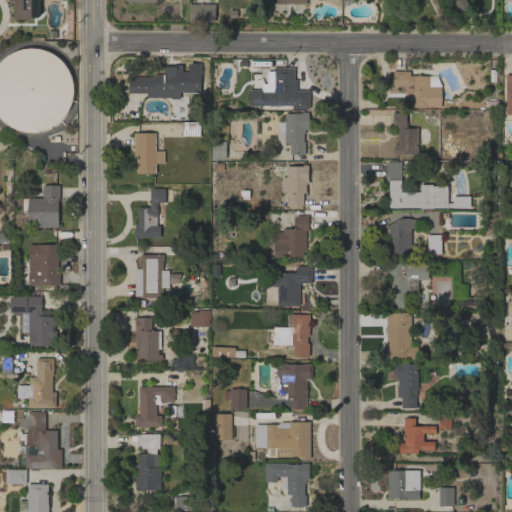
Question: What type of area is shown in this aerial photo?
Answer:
residential area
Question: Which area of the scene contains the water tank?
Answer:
top left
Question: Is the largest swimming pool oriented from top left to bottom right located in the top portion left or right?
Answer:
right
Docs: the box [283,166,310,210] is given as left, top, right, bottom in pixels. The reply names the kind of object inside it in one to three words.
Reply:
house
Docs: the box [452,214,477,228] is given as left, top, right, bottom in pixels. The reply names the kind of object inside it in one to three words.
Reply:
swimming pool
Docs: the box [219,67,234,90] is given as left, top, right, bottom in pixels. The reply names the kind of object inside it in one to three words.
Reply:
swimming pool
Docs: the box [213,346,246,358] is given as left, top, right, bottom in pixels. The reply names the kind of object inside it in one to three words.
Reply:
shed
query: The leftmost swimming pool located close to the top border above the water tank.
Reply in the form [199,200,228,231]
[48,3,63,28]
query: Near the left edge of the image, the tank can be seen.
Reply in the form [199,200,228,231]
[0,48,80,133]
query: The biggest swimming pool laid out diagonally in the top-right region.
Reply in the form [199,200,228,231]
[440,68,460,92]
